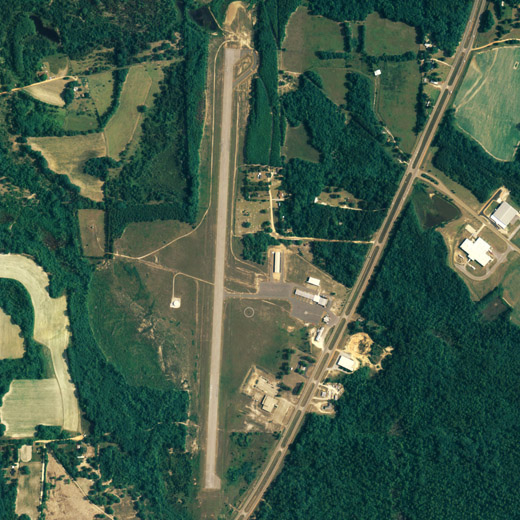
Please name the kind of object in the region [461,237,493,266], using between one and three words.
building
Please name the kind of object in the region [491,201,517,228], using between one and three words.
building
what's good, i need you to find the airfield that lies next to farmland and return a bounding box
[205,48,339,489]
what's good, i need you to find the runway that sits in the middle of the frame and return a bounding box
[205,48,240,489]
